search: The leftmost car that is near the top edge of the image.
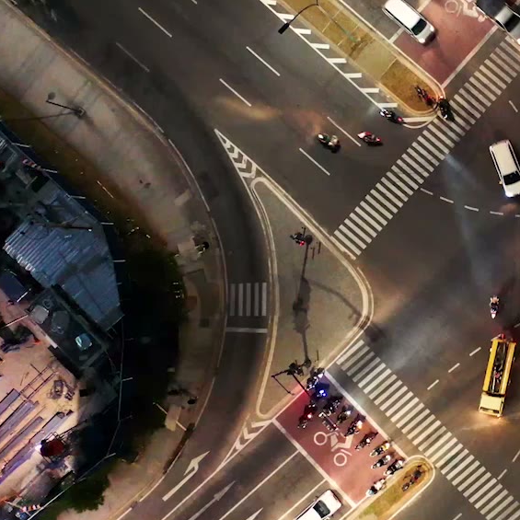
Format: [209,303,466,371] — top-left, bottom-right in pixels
[382,0,434,43]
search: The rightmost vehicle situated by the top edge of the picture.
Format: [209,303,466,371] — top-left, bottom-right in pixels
[476,0,520,43]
